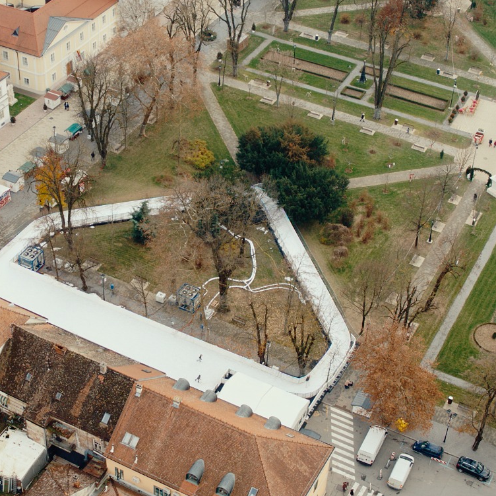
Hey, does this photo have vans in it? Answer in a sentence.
Yes, I can see a van in this picture.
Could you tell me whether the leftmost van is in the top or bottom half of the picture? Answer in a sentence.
The bottom half of the photo is where the leftmost van is.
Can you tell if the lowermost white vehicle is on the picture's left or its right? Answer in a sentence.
It is on the right.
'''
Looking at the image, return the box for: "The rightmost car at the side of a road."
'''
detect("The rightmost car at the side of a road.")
[457,455,492,481]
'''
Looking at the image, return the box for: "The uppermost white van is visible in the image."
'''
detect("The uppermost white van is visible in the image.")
[357,424,389,463]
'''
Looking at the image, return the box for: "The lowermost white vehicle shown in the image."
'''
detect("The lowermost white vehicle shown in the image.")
[389,455,415,486]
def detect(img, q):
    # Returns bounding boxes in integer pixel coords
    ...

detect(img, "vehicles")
[457,455,492,481]
[357,424,389,463]
[389,455,415,486]
[414,439,445,460]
